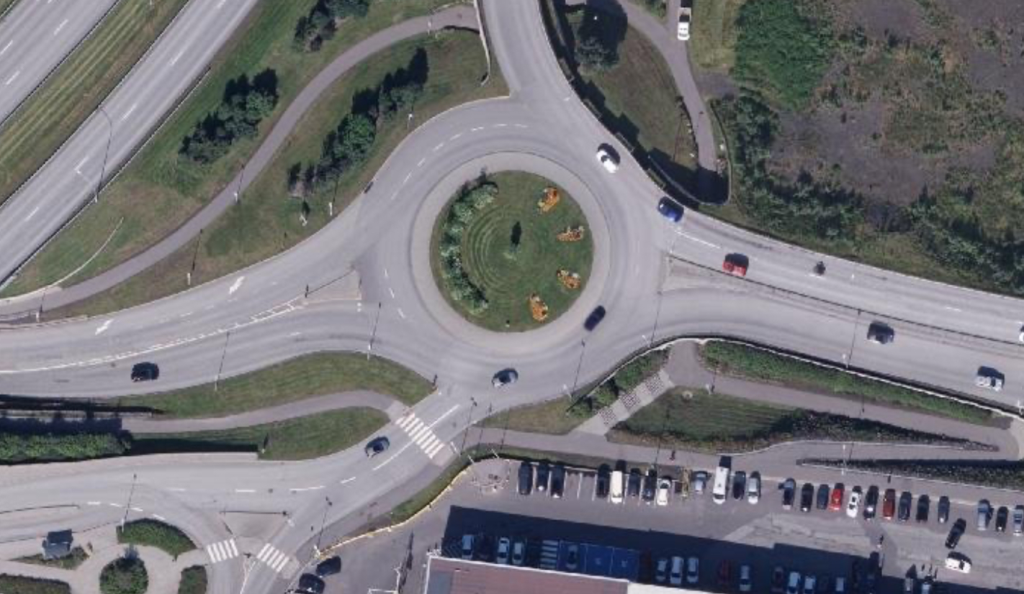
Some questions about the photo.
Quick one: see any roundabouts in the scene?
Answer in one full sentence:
Yes, there's a roundabout down there.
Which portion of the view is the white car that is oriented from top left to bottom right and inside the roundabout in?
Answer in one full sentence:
Look in the top portion of the view to spot the white car that is oriented from top left to bottom right and inside the roundabout.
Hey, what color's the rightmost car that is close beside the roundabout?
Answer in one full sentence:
From above, the rightmost car that is close beside the roundabout appears blue.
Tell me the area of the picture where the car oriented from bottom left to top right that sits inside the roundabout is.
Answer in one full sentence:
You can find the car oriented from bottom left to top right that sits inside the roundabout in the center area of the picture.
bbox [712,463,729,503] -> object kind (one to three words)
vehicle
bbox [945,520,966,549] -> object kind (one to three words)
car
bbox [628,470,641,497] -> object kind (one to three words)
vehicle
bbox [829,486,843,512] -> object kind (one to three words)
car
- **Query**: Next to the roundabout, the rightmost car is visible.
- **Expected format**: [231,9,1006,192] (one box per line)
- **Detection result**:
[655,201,683,223]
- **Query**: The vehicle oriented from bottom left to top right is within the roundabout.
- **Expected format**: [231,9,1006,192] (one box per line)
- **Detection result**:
[583,304,606,332]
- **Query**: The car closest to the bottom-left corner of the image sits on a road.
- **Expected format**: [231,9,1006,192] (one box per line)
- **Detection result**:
[131,365,159,381]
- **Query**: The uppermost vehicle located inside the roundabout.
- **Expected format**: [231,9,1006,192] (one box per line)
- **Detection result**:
[595,146,619,173]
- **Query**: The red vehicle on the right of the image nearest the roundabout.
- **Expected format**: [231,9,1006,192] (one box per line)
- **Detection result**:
[721,259,747,275]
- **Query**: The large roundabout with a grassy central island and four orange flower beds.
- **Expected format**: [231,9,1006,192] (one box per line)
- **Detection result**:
[355,95,667,408]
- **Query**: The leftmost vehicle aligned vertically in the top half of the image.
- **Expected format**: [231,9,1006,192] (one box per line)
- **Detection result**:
[678,10,691,44]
